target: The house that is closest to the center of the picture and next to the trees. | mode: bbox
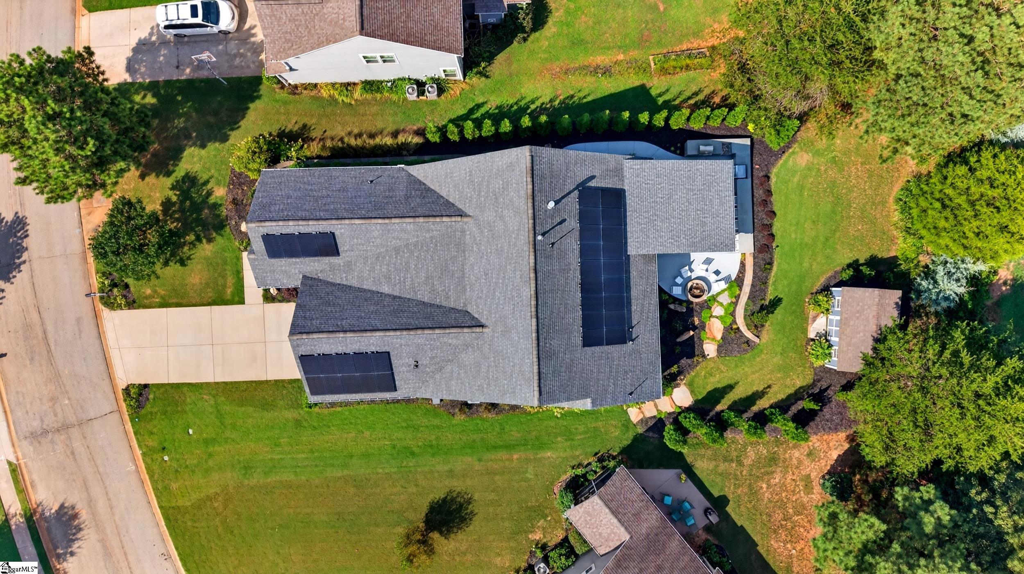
[247,146,739,409]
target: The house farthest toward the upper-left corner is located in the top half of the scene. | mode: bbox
[247,0,467,90]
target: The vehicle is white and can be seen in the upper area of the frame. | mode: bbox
[156,0,236,39]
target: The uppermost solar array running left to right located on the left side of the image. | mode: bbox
[262,231,339,259]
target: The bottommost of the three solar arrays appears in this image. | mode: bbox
[300,351,395,395]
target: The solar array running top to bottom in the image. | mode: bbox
[577,189,628,347]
